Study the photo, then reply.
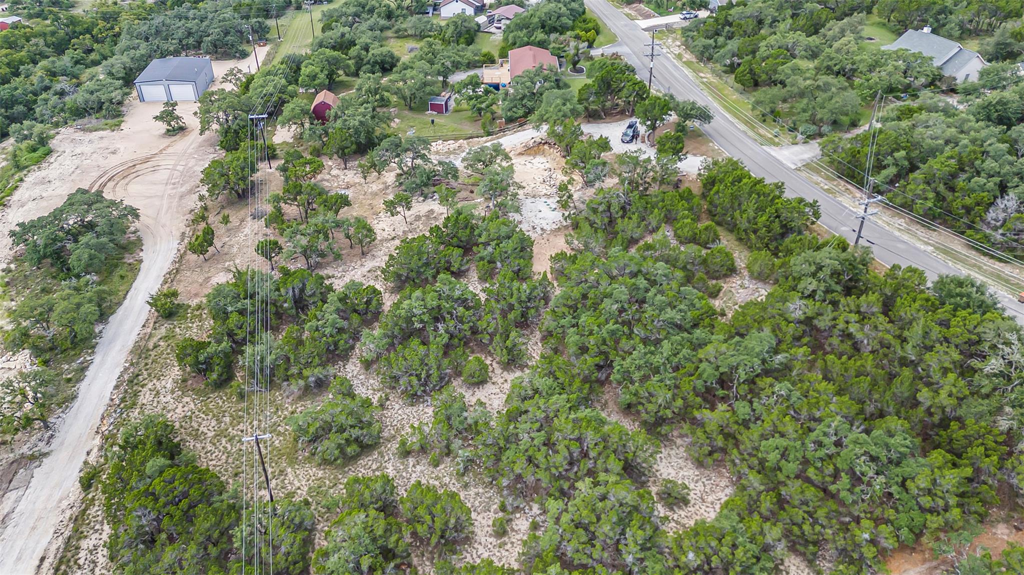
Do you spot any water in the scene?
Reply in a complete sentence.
No, there is no water in the image.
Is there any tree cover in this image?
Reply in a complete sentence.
Yes, there's tree cover in this view.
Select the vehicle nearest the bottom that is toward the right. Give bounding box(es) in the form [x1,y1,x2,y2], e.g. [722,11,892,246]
[622,120,641,141]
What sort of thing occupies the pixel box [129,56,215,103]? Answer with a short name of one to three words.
building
